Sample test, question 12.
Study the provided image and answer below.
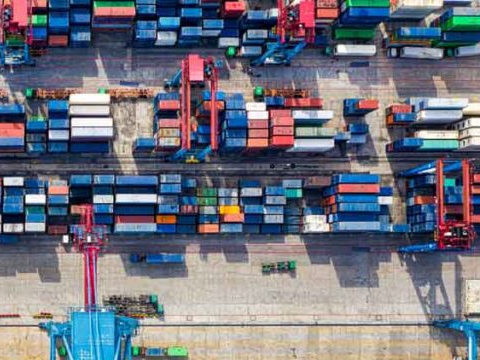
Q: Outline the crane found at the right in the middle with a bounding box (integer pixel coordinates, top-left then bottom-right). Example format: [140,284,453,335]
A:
[398,157,479,258]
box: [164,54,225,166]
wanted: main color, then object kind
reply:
red crane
